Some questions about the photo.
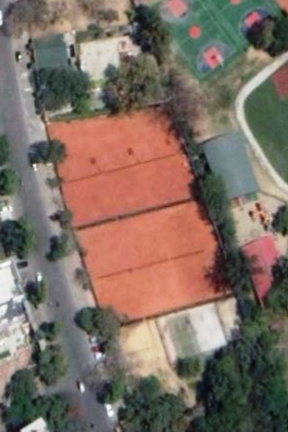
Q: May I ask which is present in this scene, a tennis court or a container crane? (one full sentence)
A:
There is a tennis court in the scene.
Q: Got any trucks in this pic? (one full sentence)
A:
No, there's no truck here.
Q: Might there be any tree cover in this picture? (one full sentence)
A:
Yes, tree cover can be seen from above here.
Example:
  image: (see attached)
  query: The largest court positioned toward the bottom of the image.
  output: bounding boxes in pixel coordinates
[76,200,231,320]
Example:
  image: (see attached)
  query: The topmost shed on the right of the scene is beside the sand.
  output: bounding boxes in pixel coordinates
[202,137,256,203]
